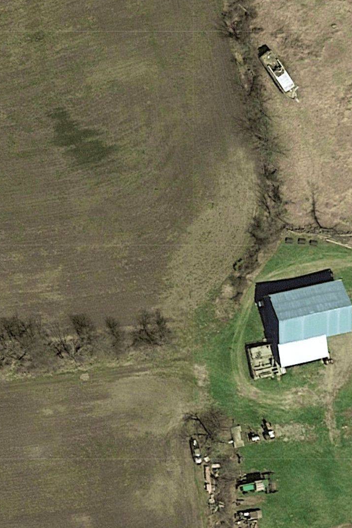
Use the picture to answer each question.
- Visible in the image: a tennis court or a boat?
boat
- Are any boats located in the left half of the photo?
No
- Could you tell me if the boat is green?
No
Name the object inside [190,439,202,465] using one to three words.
vehicle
